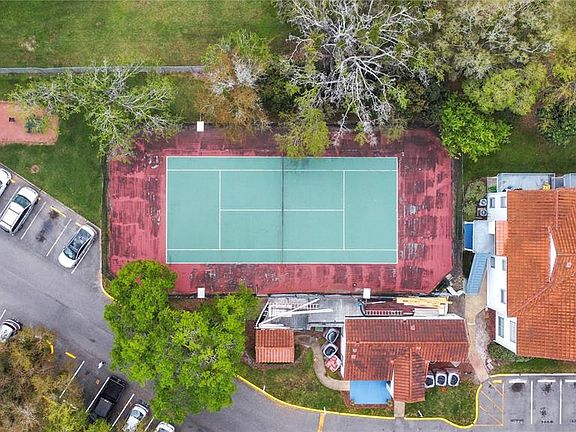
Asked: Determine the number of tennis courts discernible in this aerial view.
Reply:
one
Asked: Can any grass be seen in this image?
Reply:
Yes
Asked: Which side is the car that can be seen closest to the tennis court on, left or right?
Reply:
left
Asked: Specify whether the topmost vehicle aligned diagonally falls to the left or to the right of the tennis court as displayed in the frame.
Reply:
to the left of it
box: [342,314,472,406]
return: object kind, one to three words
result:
building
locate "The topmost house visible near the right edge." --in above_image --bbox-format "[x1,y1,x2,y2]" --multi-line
[464,189,576,358]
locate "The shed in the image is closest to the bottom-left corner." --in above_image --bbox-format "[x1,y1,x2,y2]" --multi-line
[255,326,294,364]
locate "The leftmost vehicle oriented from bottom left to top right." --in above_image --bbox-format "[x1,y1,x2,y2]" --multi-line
[0,185,38,237]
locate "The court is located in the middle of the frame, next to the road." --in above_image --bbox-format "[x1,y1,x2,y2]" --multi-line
[107,131,453,296]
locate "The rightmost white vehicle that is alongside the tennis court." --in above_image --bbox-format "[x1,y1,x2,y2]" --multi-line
[57,224,97,271]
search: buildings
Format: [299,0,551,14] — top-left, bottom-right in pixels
[255,326,294,364]
[464,189,576,358]
[342,314,472,406]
